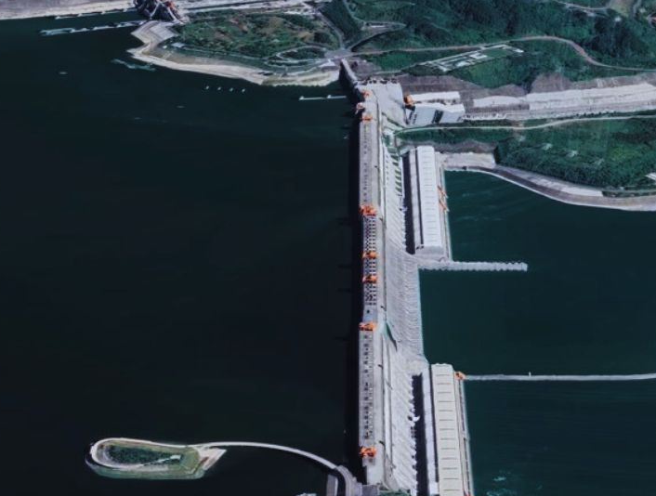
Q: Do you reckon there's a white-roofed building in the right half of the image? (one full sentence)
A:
Yes, a white-roofed building can be seen in the right half of the image.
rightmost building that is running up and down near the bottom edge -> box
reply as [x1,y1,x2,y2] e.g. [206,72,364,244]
[410,365,473,496]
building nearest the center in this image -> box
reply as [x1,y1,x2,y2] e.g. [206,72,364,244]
[401,147,451,263]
